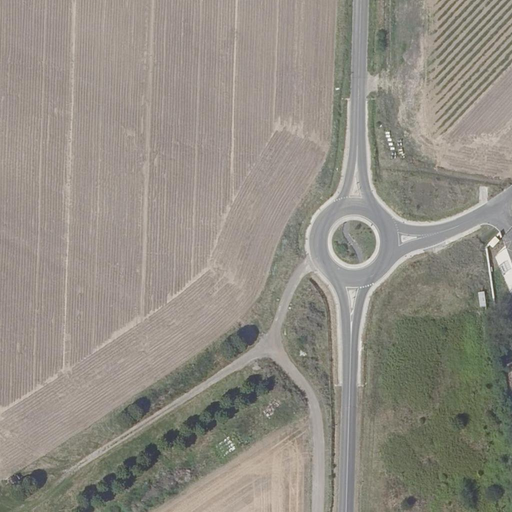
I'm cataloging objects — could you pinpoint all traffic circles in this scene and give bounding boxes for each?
[309,150,422,335]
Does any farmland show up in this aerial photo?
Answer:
Yes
